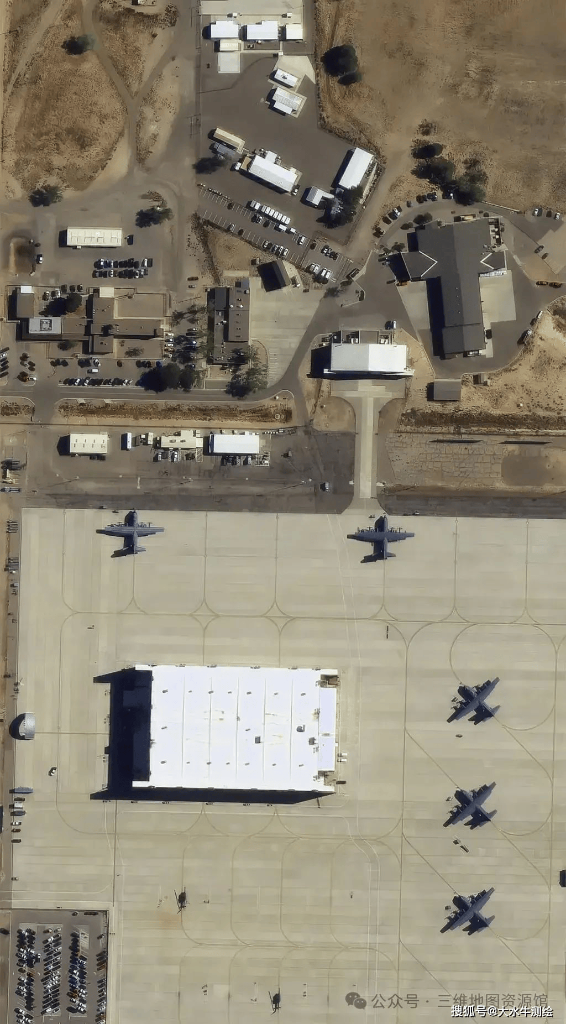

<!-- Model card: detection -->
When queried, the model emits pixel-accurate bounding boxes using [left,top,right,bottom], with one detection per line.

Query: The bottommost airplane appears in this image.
[451,887,497,934]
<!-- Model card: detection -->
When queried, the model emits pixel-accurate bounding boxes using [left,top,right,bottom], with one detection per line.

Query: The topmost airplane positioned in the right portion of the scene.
[356,516,416,559]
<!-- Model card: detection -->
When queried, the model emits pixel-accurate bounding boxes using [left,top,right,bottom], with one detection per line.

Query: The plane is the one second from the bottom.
[452,782,499,829]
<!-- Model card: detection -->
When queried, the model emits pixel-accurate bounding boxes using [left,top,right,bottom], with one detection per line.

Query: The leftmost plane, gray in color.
[105,511,164,555]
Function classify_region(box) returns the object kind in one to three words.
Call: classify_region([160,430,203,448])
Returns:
building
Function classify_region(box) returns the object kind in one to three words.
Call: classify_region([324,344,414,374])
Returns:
hangar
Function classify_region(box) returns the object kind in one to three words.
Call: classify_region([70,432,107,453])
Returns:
shed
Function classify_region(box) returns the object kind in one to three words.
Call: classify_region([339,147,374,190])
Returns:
shed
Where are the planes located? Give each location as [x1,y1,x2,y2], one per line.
[356,516,416,559]
[452,782,499,829]
[105,511,164,555]
[456,677,503,724]
[451,887,497,934]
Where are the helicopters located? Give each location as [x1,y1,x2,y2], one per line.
[277,988,282,1010]
[182,887,187,909]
